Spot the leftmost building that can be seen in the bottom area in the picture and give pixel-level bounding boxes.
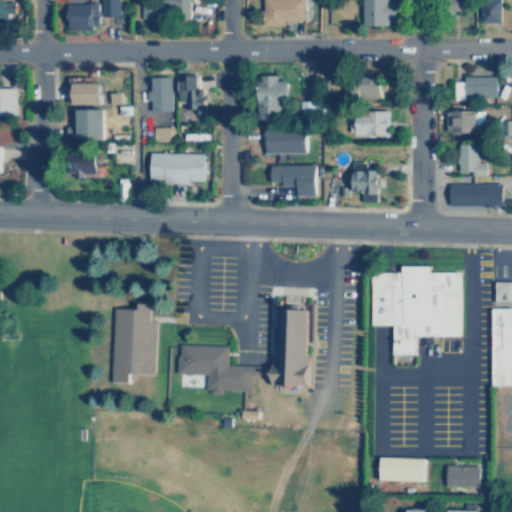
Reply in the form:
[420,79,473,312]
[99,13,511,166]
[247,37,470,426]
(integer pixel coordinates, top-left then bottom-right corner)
[114,304,158,384]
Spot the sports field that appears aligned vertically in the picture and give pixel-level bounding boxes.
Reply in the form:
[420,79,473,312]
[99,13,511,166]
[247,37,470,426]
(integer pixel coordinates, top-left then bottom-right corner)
[0,335,84,512]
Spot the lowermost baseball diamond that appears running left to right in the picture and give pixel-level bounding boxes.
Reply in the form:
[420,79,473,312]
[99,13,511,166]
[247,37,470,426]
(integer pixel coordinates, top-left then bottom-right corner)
[81,480,184,512]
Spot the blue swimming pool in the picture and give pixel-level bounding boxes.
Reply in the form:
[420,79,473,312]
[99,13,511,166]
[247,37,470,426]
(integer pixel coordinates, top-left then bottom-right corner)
[336,152,352,168]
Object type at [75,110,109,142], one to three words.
house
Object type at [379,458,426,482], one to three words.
building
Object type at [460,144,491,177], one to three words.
house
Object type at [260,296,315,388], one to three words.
building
